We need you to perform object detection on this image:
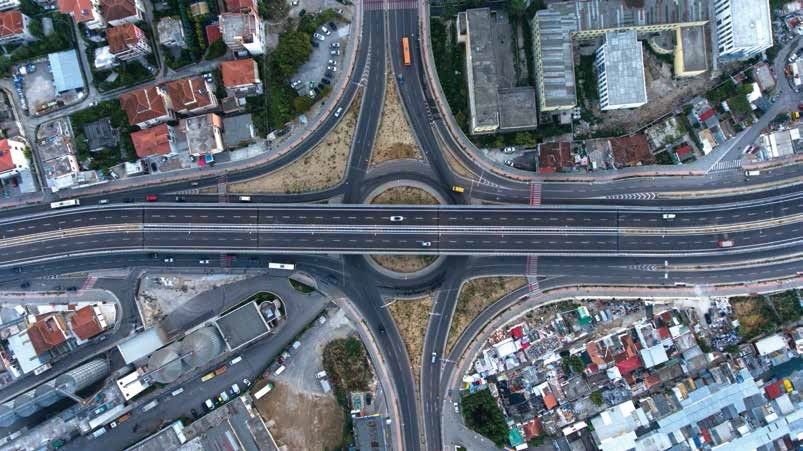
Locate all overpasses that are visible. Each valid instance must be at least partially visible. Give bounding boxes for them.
[0,191,803,268]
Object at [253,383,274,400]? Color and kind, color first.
white vehicle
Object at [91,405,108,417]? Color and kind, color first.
blue vehicle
